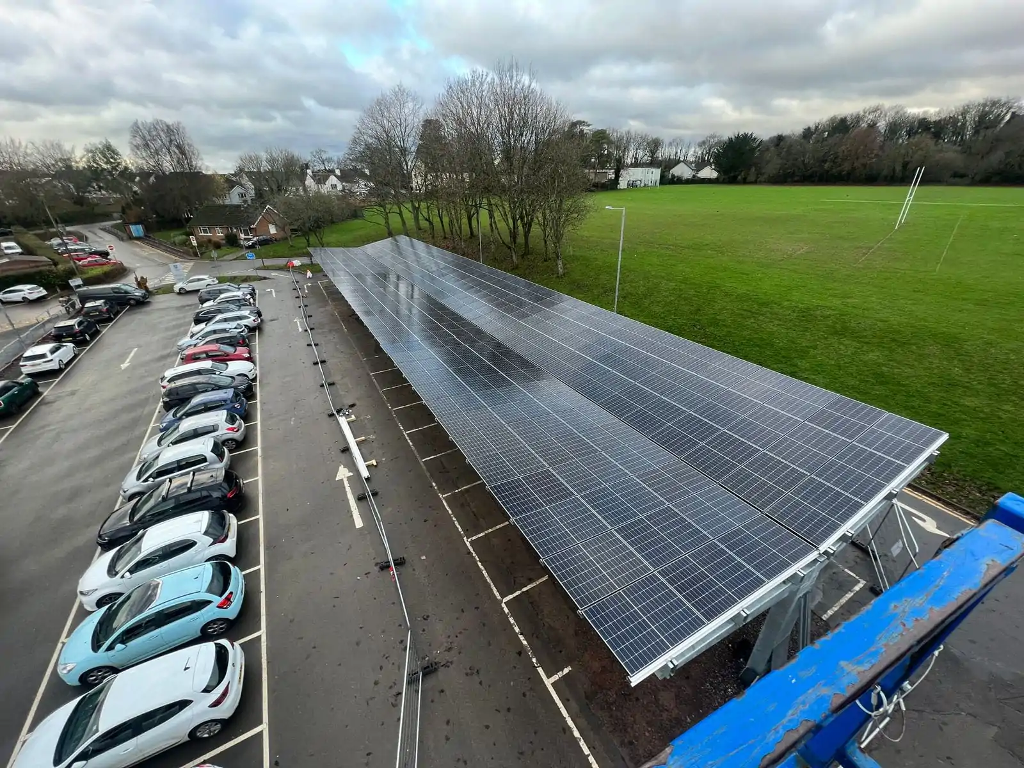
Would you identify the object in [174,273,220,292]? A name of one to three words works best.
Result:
car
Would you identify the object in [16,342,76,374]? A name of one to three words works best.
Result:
car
